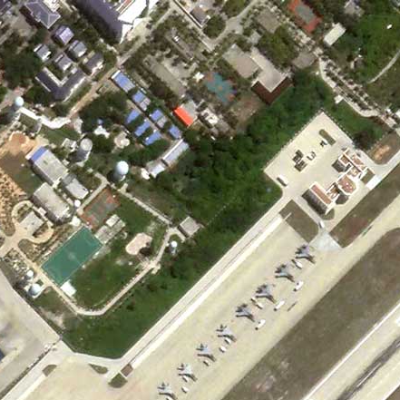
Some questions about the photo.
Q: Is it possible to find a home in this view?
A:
Yes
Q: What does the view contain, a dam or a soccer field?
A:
soccer field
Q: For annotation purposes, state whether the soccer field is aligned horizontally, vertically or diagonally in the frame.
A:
diagonally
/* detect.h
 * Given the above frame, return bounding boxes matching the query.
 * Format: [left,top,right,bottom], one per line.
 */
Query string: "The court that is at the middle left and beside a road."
[79,187,120,229]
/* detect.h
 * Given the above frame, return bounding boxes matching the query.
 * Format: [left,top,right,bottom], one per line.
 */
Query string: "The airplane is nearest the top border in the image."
[297,246,314,262]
